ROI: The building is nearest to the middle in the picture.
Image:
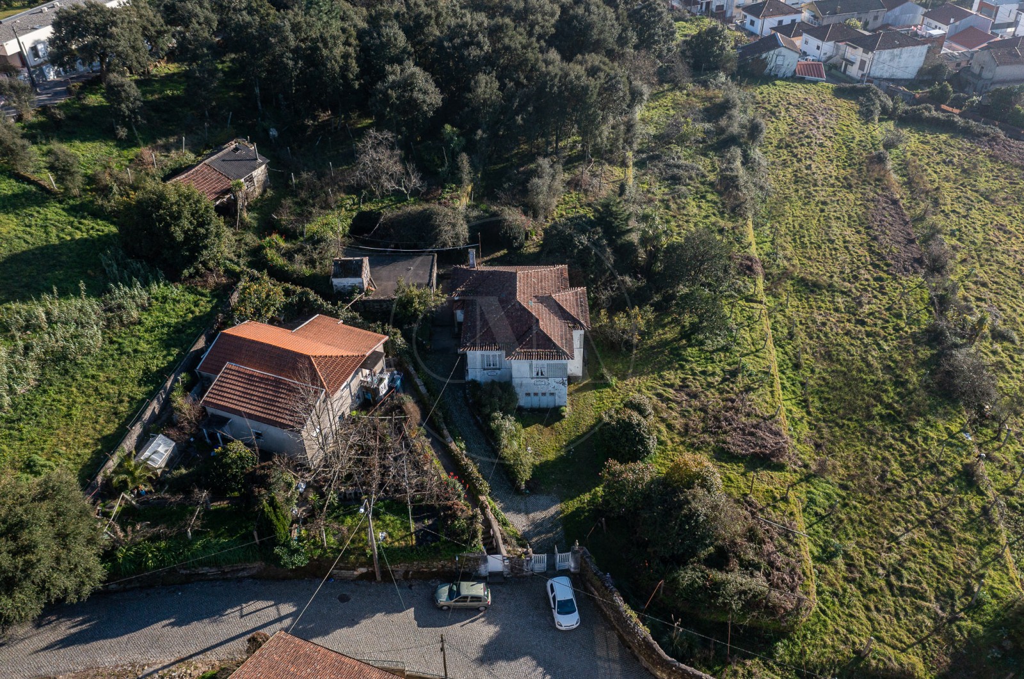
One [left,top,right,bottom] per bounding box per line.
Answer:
[442,249,593,410]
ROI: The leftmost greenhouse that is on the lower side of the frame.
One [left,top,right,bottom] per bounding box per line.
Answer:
[141,433,178,476]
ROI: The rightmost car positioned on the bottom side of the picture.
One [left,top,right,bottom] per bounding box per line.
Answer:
[546,574,579,630]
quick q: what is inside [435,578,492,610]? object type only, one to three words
car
